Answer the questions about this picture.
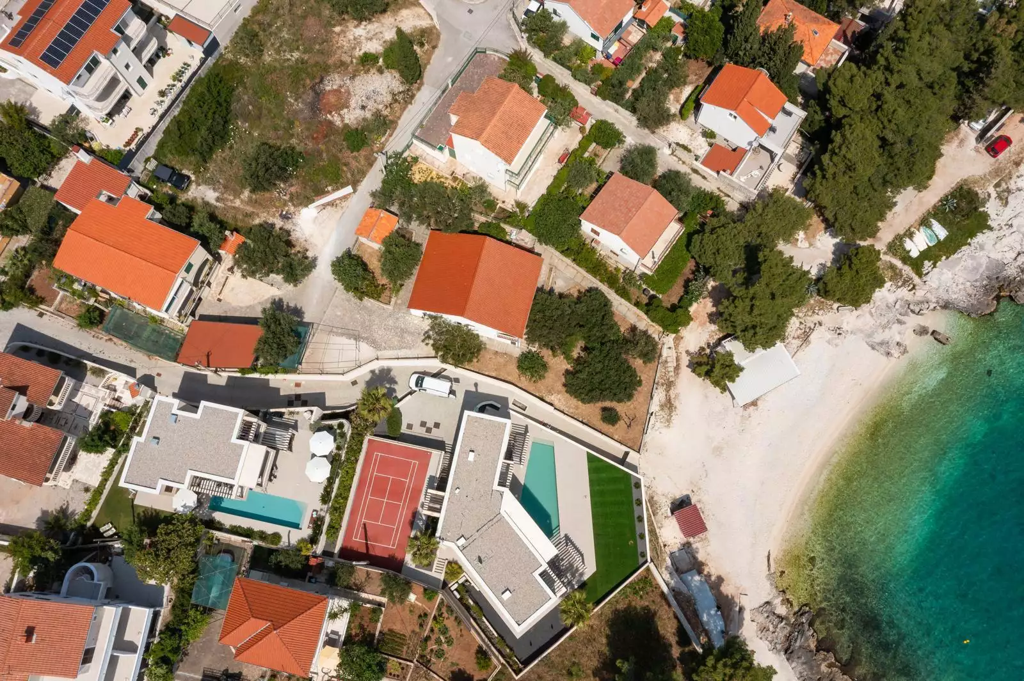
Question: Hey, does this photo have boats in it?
Yes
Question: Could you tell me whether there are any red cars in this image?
Yes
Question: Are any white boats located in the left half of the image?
No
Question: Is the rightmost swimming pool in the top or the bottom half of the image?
bottom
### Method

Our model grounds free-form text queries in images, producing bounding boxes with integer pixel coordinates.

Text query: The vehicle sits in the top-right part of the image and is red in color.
[982,134,1012,161]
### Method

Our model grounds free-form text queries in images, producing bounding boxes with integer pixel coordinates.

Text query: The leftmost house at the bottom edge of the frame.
[0,560,162,681]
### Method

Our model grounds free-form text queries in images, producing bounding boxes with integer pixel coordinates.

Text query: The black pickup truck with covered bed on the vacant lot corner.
[152,162,192,191]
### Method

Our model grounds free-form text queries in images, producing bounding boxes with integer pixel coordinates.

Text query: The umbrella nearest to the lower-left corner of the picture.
[175,490,199,512]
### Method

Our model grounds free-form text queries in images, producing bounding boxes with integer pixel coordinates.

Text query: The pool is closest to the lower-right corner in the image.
[520,438,559,538]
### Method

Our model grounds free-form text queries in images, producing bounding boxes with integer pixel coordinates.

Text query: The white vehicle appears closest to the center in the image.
[413,375,452,399]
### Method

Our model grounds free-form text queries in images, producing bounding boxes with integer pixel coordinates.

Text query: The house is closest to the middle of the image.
[408,230,544,350]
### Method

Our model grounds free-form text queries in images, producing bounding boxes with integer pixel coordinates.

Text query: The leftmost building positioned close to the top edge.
[0,0,162,122]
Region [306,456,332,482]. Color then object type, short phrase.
white umbrella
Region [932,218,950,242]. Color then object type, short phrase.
white boat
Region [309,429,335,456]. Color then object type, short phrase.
white umbrella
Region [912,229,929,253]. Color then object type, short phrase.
white boat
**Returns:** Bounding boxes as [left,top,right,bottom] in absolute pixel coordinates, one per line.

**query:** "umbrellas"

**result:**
[603,45,621,64]
[309,429,335,456]
[306,456,332,482]
[317,646,342,669]
[175,490,199,512]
